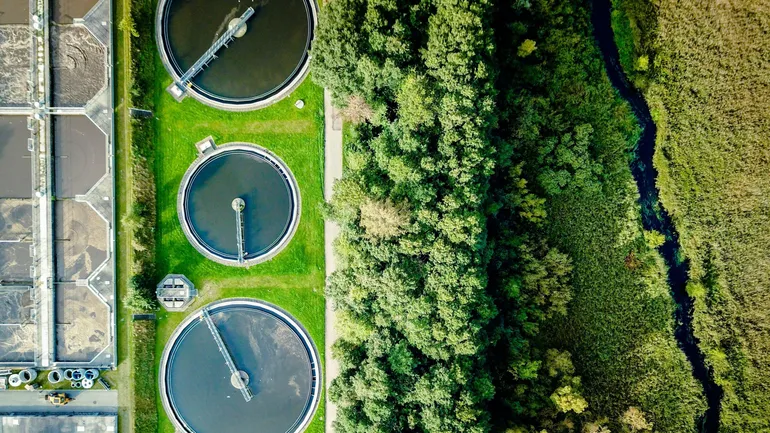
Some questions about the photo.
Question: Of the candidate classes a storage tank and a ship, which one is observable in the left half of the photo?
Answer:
storage tank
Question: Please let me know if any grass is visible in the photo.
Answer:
Yes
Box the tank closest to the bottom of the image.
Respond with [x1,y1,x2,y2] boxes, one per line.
[159,298,322,433]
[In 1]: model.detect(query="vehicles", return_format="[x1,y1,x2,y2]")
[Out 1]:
[46,392,81,406]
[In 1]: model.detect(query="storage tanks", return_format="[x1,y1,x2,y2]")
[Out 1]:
[177,142,302,266]
[159,298,322,433]
[156,0,322,114]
